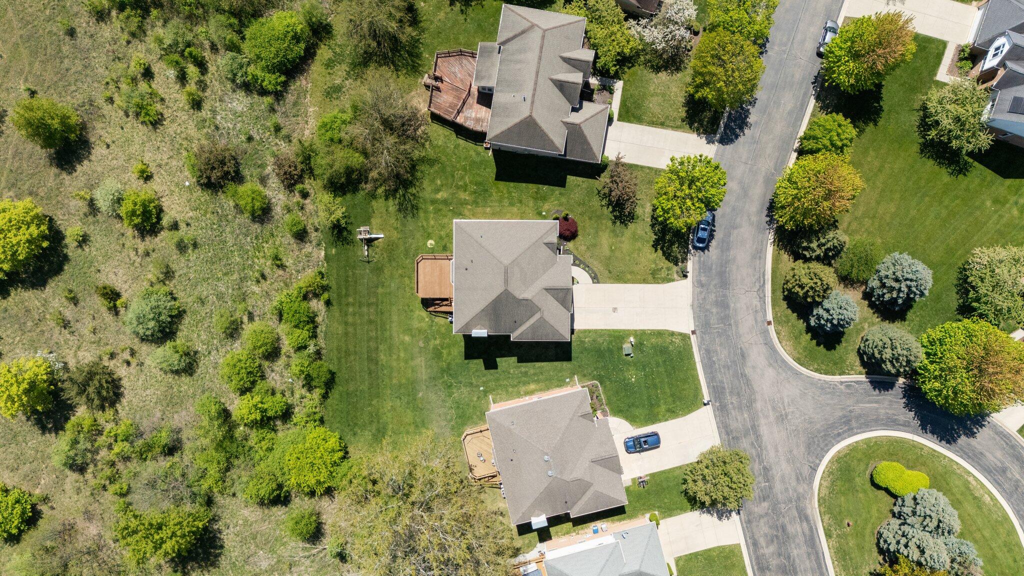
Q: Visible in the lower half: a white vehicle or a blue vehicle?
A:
blue vehicle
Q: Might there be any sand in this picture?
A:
No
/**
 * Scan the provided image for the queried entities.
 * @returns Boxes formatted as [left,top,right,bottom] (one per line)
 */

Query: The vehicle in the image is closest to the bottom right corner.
[624,433,661,453]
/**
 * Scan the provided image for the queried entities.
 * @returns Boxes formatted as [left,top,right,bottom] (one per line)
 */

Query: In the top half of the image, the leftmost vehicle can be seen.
[692,212,715,248]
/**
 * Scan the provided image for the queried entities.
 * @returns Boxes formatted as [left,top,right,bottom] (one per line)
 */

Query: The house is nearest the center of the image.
[450,220,573,341]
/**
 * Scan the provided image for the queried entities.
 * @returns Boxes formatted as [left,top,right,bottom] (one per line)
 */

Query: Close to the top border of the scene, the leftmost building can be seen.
[473,3,611,165]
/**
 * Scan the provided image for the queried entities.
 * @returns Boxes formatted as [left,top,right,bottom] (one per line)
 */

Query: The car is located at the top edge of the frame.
[814,21,838,58]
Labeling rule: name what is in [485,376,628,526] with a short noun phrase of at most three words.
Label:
house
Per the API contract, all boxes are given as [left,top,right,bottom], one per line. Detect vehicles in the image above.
[624,433,661,453]
[692,212,715,248]
[814,21,838,58]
